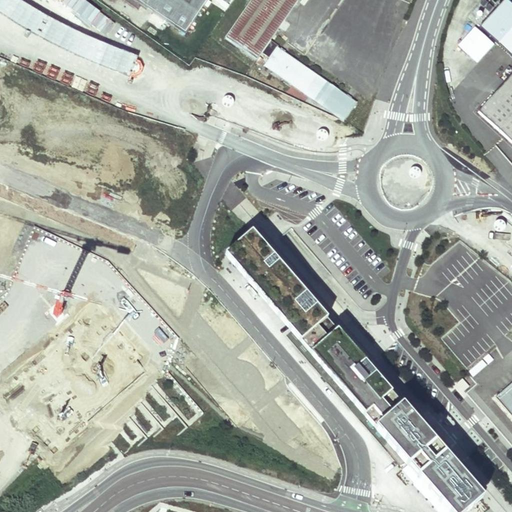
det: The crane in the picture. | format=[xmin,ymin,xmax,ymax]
[0,276,106,324]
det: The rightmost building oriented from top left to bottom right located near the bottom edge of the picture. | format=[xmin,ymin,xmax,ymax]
[378,399,486,512]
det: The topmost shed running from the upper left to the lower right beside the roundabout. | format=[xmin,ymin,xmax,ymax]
[264,46,358,124]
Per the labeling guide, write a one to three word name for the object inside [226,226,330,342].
building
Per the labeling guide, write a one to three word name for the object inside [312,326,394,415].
building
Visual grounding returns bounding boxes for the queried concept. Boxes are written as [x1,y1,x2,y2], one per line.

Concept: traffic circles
[356,136,454,230]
